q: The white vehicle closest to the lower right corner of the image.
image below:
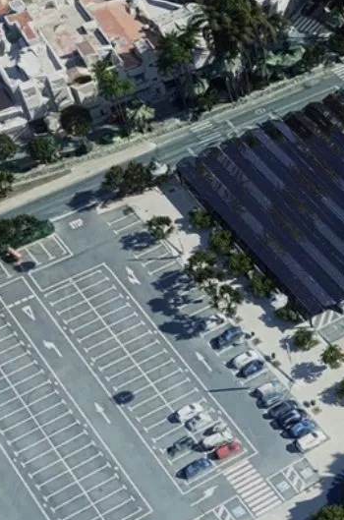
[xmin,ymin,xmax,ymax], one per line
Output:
[294,432,327,454]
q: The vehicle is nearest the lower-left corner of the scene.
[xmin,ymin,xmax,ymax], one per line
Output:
[111,390,137,407]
